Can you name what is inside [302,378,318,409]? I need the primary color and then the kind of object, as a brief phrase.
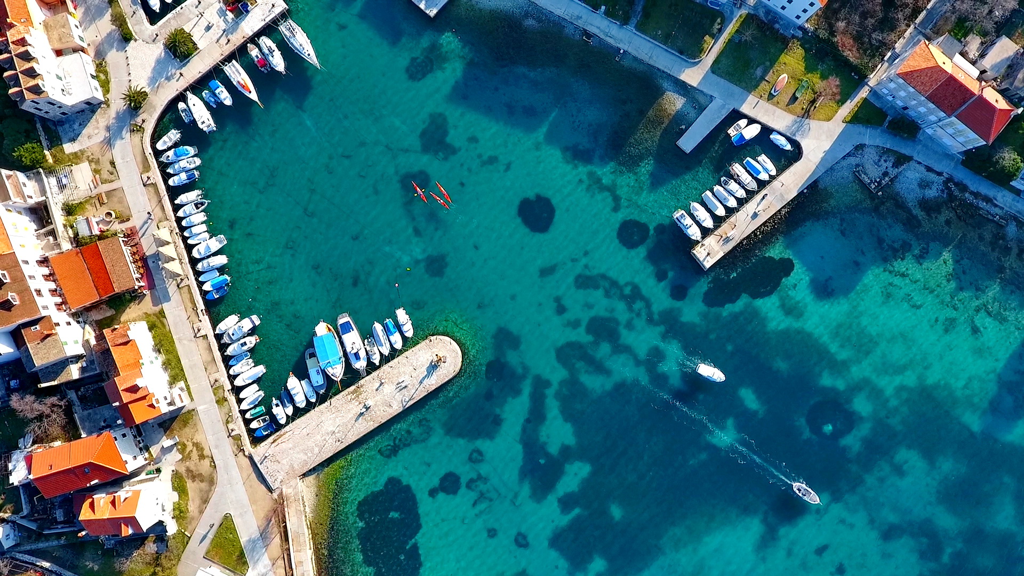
blue boat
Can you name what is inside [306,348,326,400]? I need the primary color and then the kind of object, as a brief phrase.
blue boat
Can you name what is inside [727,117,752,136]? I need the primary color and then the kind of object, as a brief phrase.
white boat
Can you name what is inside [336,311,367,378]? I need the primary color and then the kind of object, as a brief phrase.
white boat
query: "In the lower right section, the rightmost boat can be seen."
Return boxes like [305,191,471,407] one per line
[792,481,821,504]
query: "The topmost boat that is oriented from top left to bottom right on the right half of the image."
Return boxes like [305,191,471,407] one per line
[770,127,794,152]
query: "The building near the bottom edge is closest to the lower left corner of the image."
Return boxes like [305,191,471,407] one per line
[0,515,30,551]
